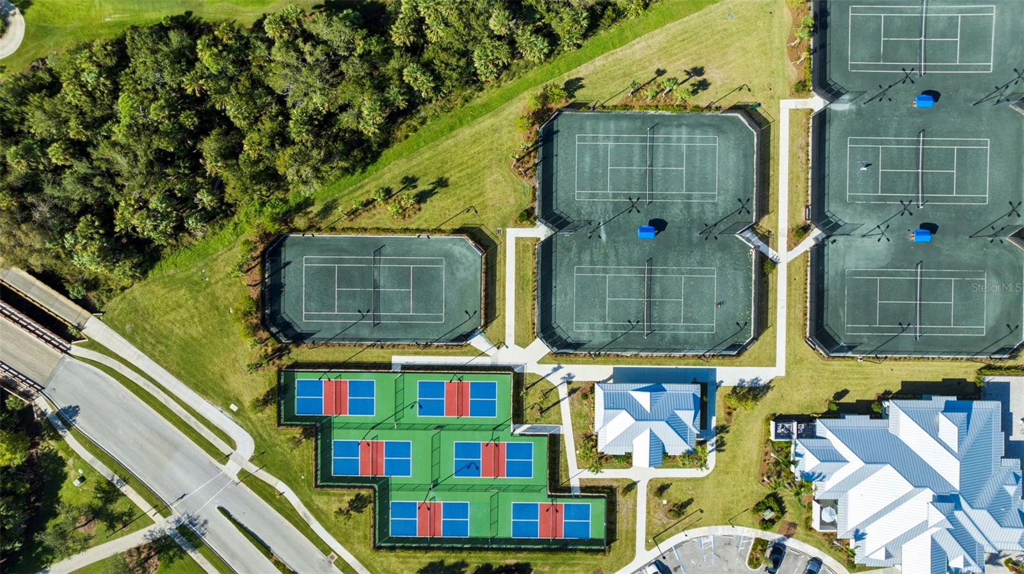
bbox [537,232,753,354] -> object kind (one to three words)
tennis court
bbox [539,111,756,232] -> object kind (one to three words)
tennis court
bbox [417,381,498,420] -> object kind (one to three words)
sports court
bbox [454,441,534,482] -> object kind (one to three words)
sports court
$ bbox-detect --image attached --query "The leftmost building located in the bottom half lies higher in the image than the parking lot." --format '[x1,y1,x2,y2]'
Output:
[594,383,701,470]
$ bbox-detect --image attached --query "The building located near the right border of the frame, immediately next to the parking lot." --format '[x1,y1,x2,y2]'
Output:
[791,395,1024,574]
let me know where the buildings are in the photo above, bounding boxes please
[791,395,1024,574]
[594,383,701,470]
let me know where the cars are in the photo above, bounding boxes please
[805,558,822,574]
[646,565,661,574]
[768,544,786,574]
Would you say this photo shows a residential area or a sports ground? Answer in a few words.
sports ground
